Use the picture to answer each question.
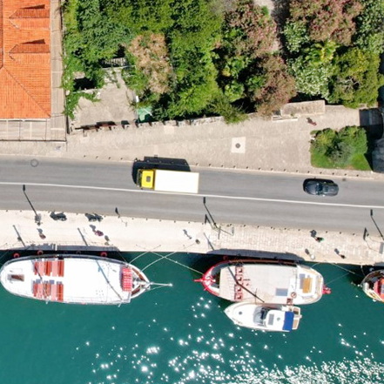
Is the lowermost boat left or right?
right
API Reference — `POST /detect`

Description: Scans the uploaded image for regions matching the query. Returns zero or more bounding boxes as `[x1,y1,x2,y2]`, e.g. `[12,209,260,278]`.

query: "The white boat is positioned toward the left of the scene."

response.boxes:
[0,250,173,305]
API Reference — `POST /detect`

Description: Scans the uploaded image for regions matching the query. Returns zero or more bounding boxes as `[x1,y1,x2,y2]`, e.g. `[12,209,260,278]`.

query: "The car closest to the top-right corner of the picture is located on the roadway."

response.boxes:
[302,179,338,196]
